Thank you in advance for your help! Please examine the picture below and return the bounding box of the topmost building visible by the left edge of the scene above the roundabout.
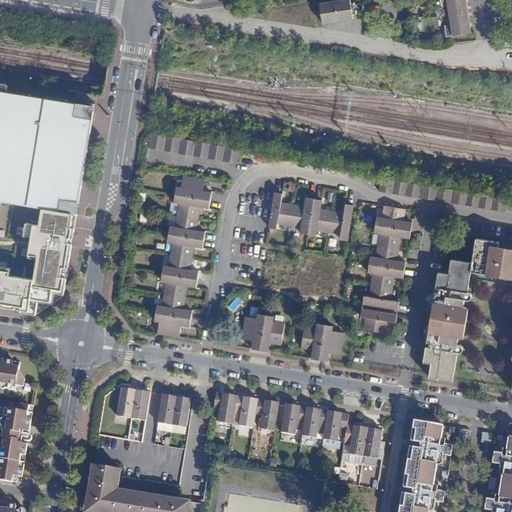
[0,92,94,212]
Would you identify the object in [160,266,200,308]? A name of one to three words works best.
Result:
house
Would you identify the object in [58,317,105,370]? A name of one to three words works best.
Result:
roundabout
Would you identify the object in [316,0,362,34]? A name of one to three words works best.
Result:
house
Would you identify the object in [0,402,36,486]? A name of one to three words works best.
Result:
building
